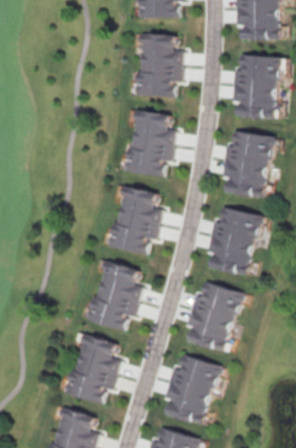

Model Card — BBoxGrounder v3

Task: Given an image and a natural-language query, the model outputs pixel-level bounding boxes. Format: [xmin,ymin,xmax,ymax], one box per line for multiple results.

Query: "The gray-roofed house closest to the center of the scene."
[104,186,170,254]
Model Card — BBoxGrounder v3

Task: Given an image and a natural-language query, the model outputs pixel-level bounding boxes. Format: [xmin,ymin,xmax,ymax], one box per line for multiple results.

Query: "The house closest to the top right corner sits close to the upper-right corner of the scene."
[234,0,296,41]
